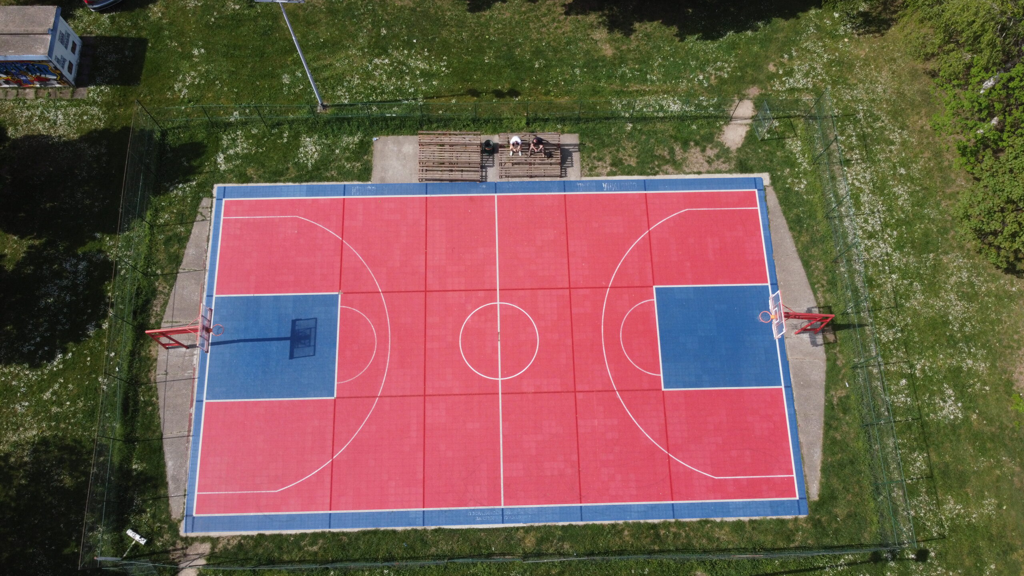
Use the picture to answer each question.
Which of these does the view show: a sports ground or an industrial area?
sports ground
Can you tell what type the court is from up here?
basketball court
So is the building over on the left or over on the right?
left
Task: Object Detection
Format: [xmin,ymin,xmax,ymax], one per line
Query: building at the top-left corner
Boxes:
[0,3,83,87]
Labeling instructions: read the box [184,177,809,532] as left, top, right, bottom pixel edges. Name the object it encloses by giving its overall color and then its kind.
red basketball court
